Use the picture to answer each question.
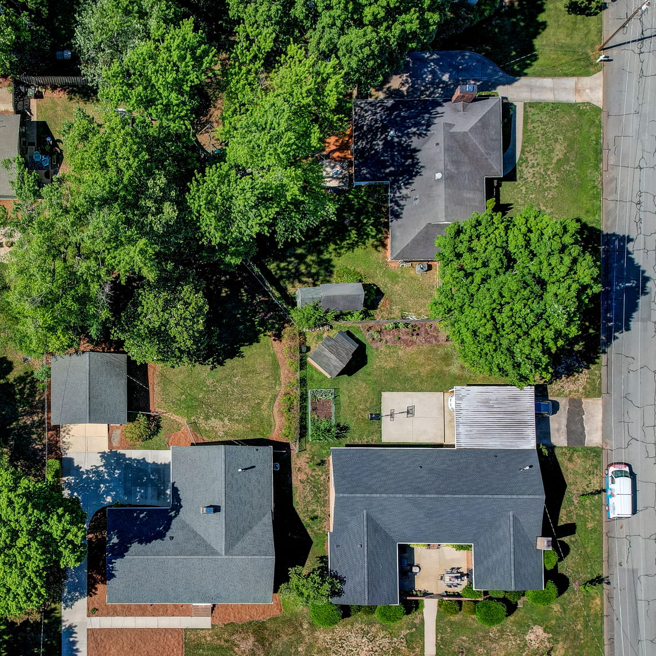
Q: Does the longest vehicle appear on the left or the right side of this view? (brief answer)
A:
right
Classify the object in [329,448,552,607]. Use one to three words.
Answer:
house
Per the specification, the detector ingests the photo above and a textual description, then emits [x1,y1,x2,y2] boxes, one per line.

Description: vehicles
[447,397,453,412]
[536,401,552,419]
[607,463,635,518]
